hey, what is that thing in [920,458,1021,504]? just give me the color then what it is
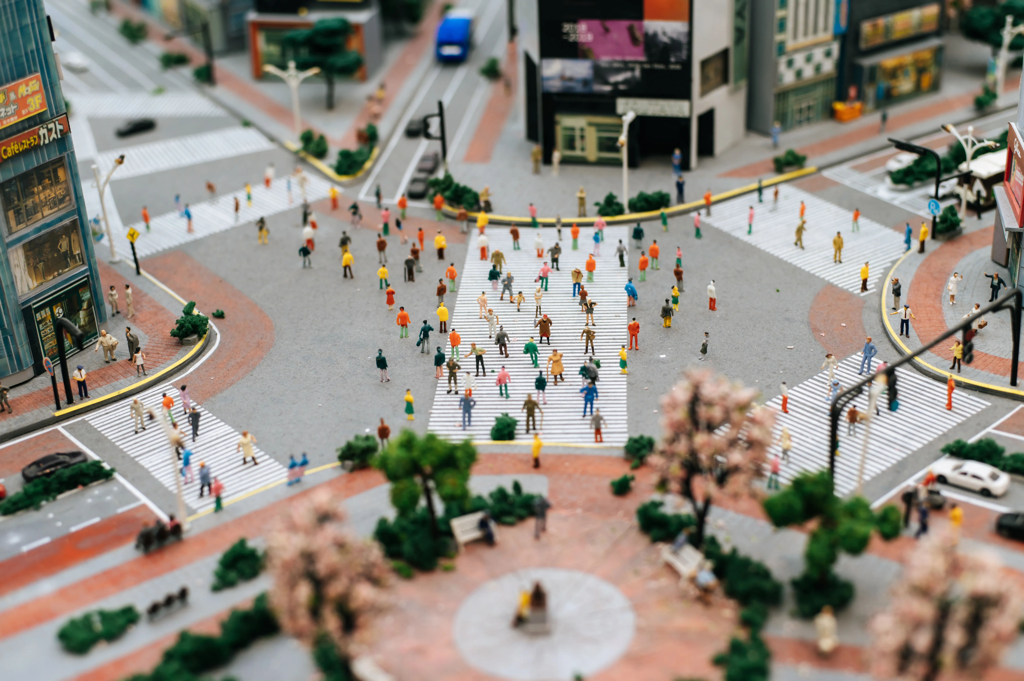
white car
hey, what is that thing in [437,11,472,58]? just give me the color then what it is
blue truck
